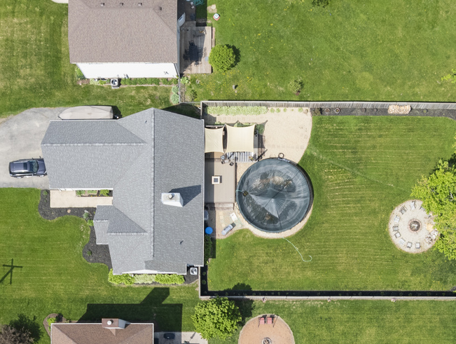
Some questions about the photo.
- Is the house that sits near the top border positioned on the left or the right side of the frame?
left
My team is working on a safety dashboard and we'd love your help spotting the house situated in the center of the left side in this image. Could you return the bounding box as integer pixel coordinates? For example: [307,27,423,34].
[42,108,204,275]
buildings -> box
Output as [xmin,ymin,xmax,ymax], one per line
[67,0,178,77]
[42,108,204,275]
[51,315,156,344]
